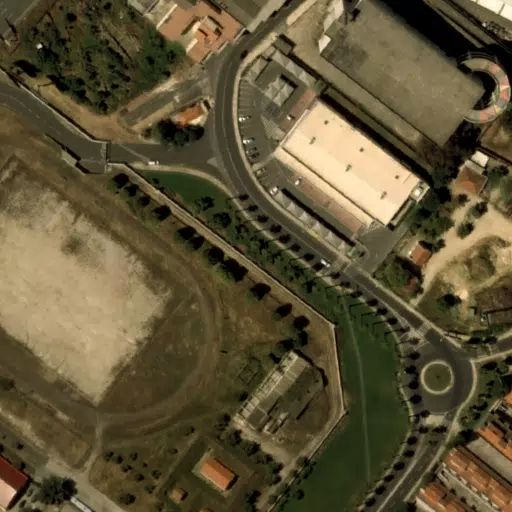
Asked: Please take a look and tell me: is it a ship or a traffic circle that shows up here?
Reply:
traffic circle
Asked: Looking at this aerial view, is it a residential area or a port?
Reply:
residential area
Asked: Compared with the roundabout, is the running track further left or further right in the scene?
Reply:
left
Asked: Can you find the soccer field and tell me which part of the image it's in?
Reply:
left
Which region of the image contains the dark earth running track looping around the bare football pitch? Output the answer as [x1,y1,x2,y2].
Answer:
[0,116,226,435]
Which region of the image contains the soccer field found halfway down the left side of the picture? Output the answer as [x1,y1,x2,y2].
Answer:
[0,155,169,407]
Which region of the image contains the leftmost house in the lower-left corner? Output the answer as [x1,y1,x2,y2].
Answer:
[0,455,32,508]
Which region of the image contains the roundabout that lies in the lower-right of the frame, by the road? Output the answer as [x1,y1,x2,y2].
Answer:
[404,344,471,410]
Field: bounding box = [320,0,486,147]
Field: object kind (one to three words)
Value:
building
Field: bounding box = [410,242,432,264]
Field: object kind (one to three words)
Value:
shed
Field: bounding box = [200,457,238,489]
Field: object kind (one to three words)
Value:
house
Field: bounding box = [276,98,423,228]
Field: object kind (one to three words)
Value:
warehouse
